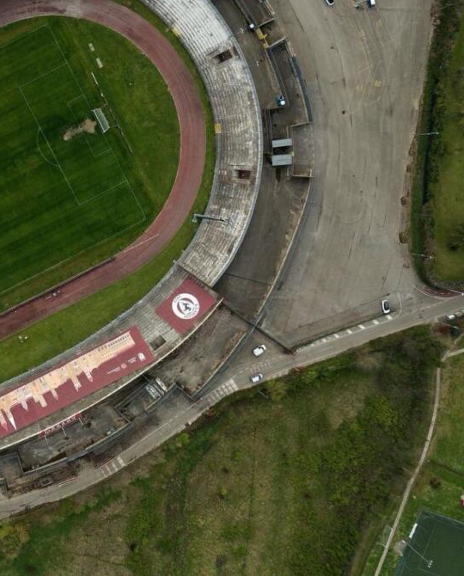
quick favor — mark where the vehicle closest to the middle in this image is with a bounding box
[253,345,267,357]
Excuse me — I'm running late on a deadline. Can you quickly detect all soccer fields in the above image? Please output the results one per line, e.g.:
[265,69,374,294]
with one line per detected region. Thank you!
[398,511,464,576]
[0,20,152,298]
